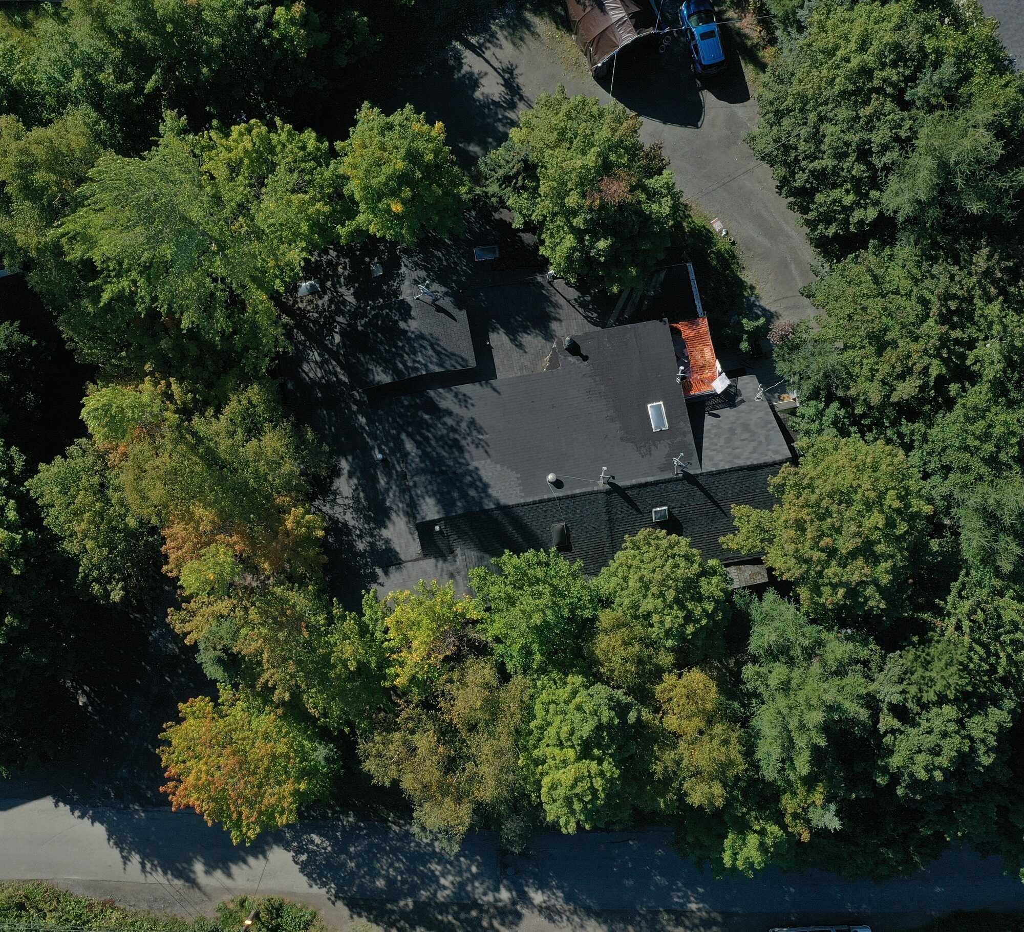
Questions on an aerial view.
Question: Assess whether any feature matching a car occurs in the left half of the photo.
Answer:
No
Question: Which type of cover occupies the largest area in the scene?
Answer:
trees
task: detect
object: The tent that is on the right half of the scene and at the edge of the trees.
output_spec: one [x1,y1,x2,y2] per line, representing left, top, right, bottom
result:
[567,0,688,82]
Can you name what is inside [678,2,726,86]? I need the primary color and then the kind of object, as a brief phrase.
blue car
